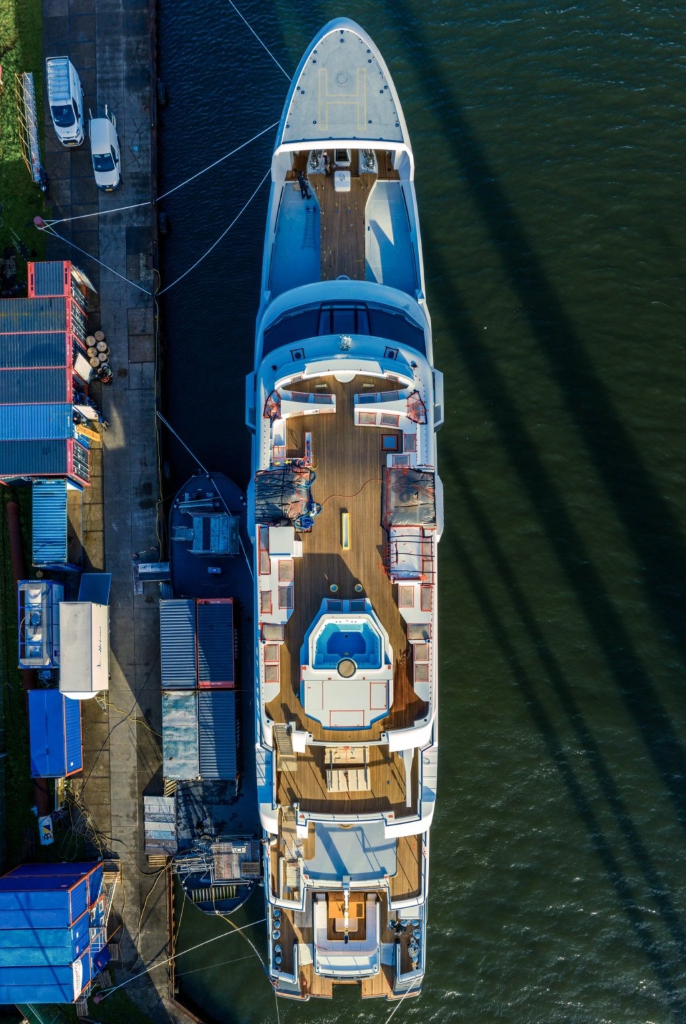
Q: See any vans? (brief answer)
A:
Yes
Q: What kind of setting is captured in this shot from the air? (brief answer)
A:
port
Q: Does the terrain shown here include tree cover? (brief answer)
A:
No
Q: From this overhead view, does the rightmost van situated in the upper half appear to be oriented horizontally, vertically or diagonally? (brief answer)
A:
vertically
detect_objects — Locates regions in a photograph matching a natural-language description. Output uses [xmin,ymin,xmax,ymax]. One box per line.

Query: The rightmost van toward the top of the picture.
[85,98,125,188]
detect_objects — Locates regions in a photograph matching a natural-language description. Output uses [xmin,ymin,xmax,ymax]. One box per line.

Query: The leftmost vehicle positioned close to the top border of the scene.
[44,47,87,142]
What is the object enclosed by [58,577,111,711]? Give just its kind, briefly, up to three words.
trailer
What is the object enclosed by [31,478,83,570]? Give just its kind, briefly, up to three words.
shipping container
